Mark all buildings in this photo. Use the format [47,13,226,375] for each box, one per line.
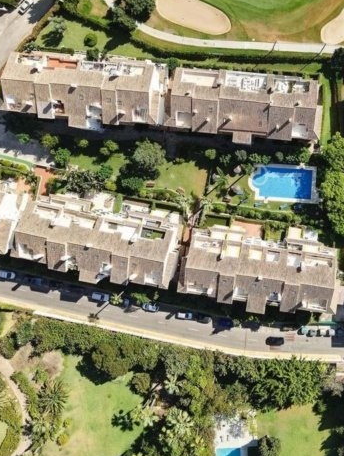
[0,52,170,134]
[10,195,185,289]
[162,66,322,153]
[179,224,344,315]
